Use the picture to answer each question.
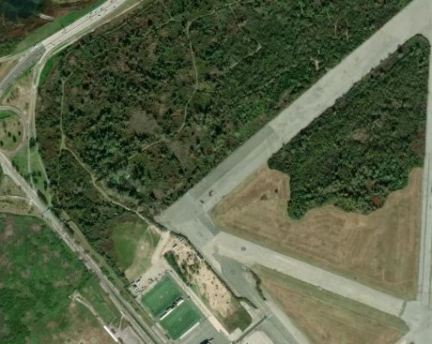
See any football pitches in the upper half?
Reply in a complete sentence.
No, the scene shows no football pitch in the upper half.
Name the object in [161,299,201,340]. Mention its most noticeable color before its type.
green soccer field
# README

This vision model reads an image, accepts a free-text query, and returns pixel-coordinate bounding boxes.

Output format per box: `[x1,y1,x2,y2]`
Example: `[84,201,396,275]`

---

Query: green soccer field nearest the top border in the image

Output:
[141,274,183,317]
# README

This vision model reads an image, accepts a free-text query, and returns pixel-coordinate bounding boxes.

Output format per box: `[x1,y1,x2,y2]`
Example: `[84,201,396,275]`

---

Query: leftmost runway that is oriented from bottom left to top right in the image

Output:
[188,126,278,208]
